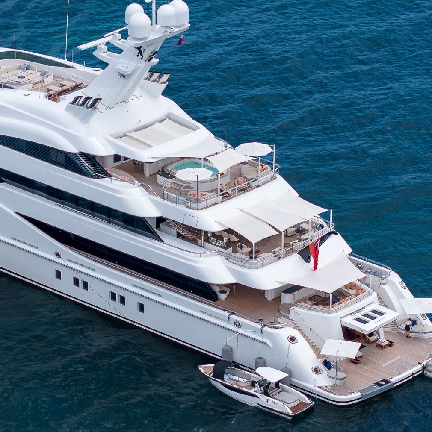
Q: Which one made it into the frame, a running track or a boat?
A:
boat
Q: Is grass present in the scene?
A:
No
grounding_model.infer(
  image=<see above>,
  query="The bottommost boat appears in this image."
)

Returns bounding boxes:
[197,360,318,426]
